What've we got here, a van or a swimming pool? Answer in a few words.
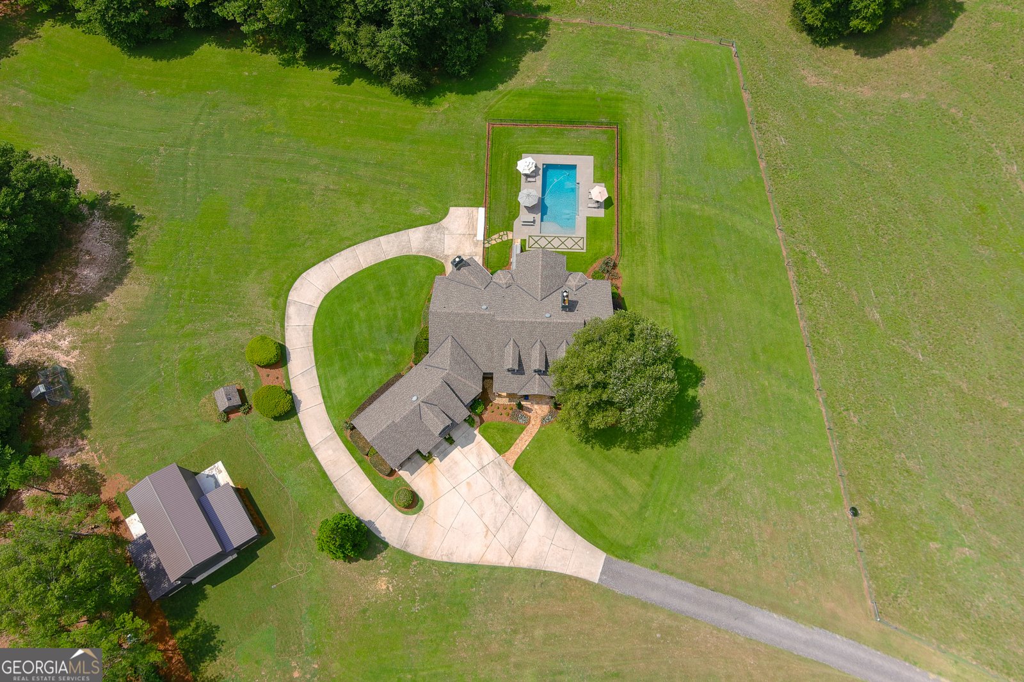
swimming pool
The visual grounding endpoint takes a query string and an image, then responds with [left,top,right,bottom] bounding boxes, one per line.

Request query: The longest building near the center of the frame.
[351,249,616,467]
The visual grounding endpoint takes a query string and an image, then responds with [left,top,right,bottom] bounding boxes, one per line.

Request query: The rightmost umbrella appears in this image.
[589,187,607,202]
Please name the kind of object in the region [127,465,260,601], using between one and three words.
barn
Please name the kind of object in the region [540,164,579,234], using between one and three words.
swimming pool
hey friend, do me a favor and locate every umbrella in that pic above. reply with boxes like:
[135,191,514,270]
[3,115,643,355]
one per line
[517,160,535,176]
[518,190,538,208]
[589,187,607,202]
